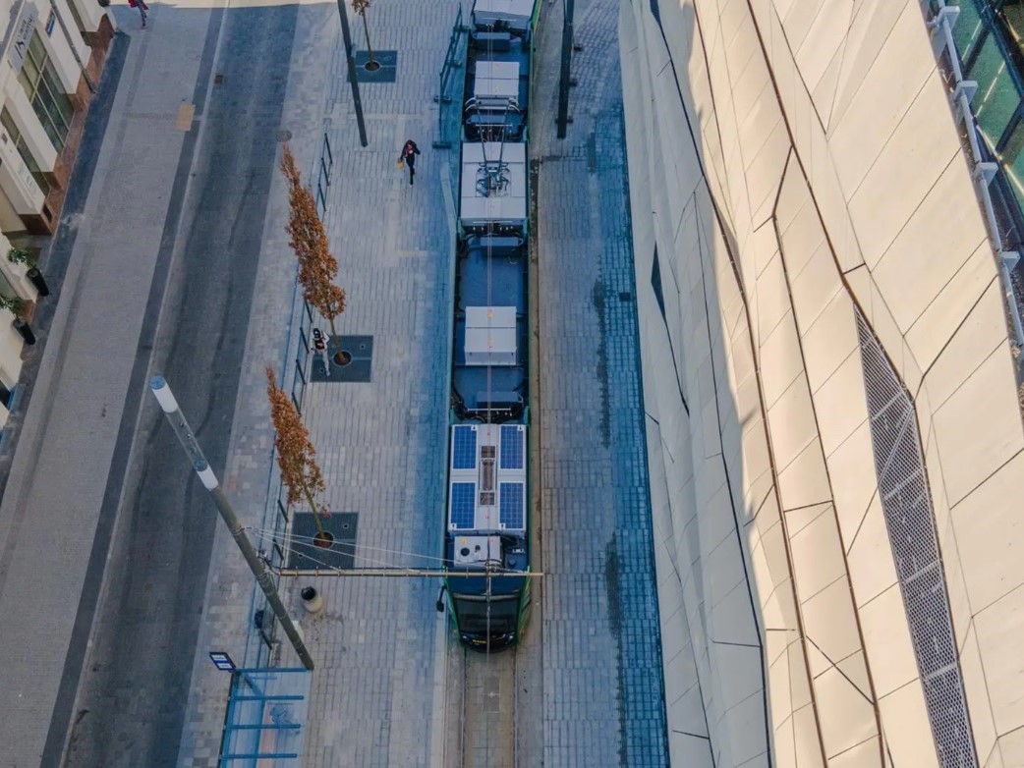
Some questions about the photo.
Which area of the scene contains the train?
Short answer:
center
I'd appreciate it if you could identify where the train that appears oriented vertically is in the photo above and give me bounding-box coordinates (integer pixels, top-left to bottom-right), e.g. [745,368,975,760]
[436,0,541,653]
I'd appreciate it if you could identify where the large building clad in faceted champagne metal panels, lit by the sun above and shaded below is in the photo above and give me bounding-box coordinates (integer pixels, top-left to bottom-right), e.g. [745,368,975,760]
[618,0,1024,768]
